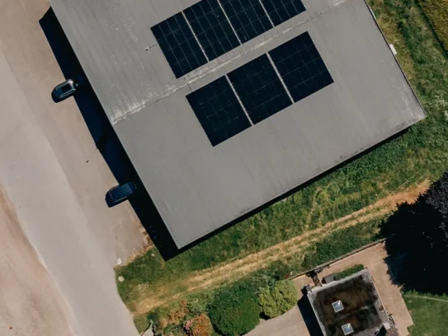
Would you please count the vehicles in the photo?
2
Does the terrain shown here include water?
No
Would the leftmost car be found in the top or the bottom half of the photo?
top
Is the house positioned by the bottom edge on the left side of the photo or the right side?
right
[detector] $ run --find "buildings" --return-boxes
[51,0,425,250]
[307,265,398,336]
